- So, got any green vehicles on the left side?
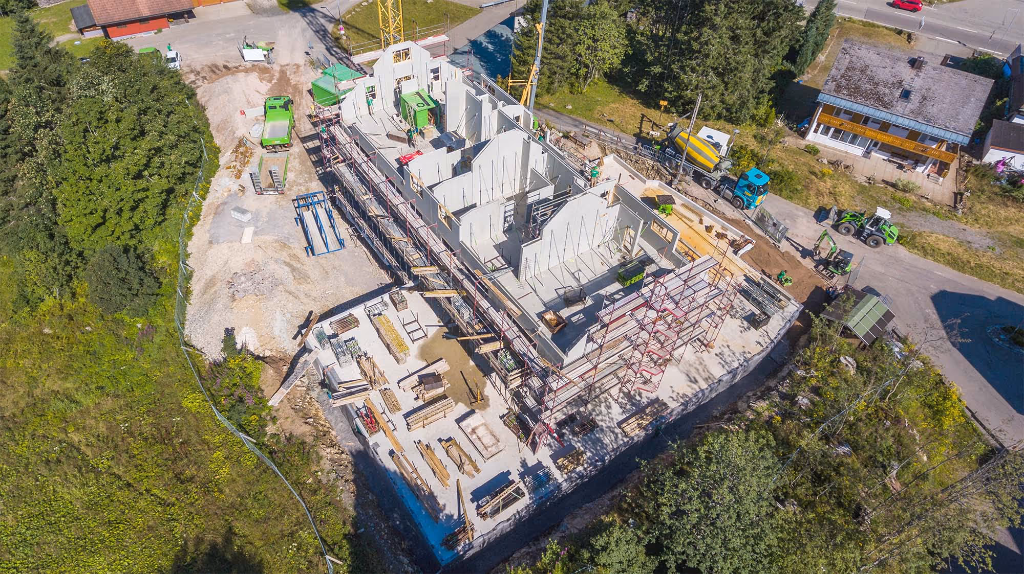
Yes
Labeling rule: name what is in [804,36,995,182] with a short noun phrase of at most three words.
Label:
house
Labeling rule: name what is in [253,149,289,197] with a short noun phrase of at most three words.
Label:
trailer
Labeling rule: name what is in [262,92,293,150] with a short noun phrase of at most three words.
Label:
truck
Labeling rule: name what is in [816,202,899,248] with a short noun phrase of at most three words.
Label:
work vehicle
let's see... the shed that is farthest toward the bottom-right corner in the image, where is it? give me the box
[810,287,897,351]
